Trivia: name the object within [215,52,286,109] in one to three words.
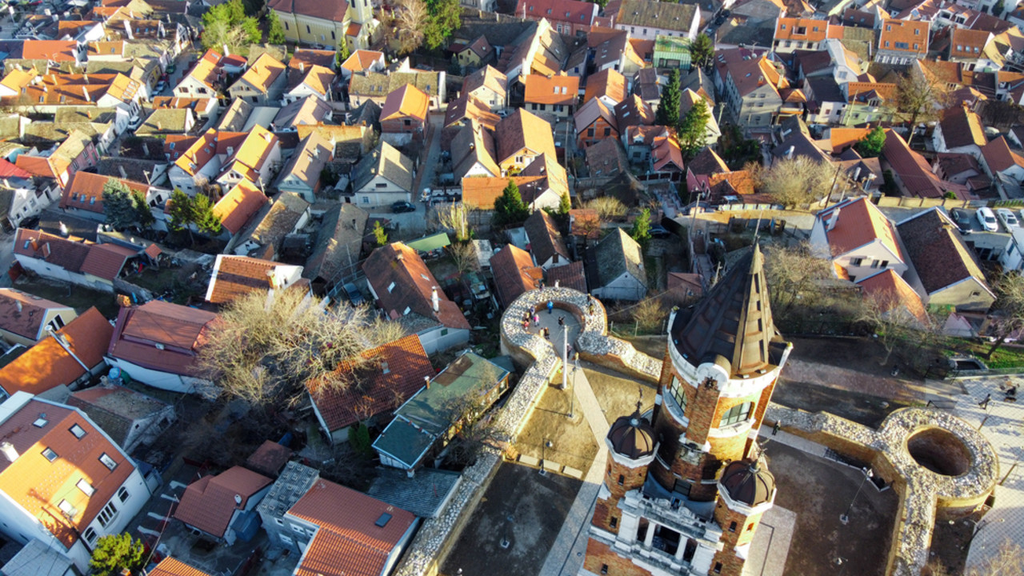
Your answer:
house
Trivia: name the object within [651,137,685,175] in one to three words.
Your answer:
house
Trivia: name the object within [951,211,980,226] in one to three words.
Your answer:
car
